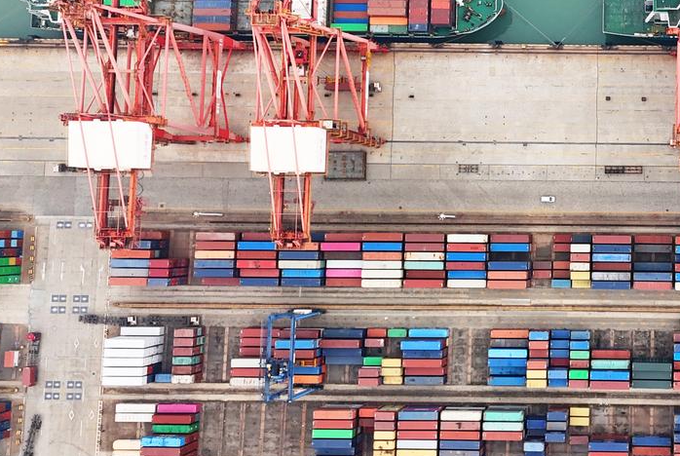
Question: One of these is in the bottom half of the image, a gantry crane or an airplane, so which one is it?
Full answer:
Visible in the bottom half of the image is a gantry crane.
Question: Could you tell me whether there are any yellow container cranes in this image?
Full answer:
No, the frame has no yellow container crane in it.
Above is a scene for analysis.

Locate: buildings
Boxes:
[2,350,22,369]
